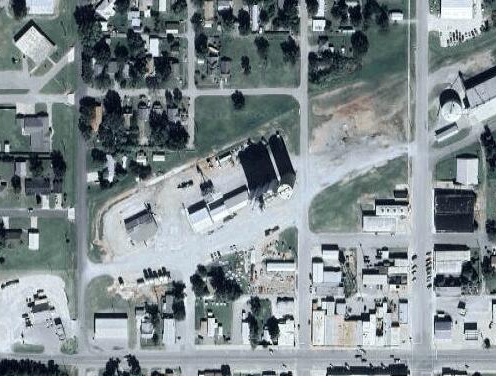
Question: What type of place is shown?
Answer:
residential area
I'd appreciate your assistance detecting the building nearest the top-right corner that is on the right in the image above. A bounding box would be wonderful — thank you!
[441,0,474,19]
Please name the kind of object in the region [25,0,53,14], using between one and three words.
building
